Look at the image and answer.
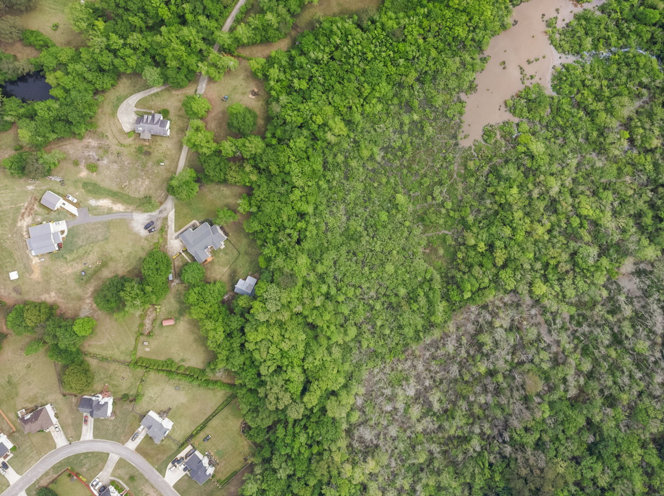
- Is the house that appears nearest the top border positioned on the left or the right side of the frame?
left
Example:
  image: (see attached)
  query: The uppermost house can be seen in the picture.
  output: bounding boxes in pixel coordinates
[134,115,171,143]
